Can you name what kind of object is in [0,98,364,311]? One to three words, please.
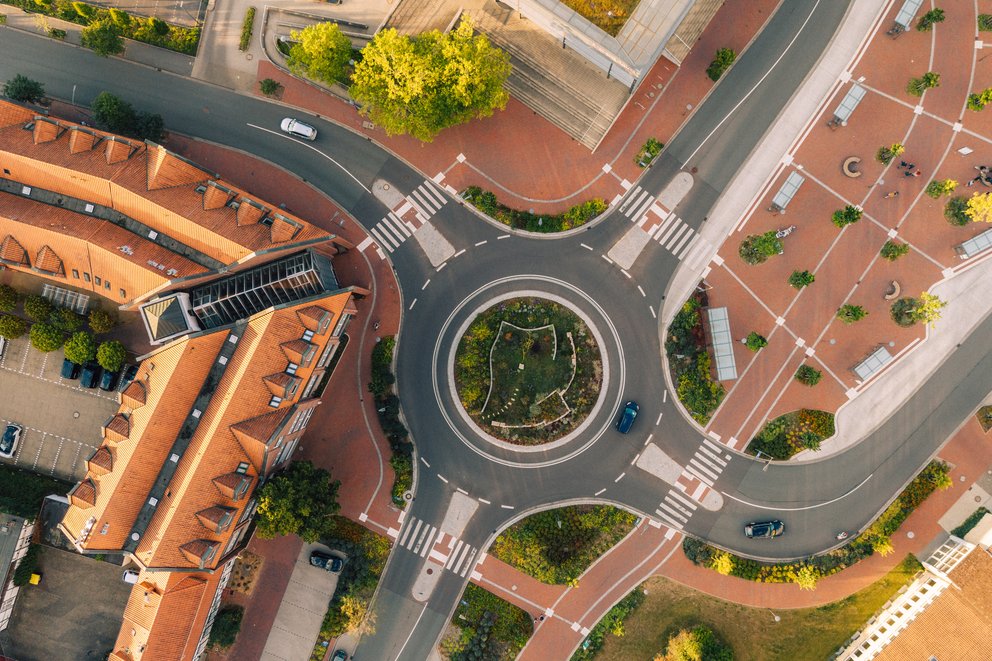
house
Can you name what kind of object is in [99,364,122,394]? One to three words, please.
car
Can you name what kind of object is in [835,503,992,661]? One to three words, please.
house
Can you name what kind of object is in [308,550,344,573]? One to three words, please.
car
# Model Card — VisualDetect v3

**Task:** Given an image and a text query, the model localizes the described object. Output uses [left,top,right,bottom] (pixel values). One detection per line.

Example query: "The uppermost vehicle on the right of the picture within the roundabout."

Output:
[615,400,637,433]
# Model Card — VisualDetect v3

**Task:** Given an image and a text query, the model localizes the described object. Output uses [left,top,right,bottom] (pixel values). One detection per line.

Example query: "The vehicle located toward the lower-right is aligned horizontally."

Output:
[744,519,783,538]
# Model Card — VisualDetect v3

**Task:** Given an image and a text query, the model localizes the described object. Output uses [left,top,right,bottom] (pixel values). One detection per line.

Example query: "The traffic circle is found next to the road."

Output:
[370,134,758,612]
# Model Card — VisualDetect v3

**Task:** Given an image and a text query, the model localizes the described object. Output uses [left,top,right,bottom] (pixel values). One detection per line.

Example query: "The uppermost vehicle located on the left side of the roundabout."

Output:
[280,117,320,142]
